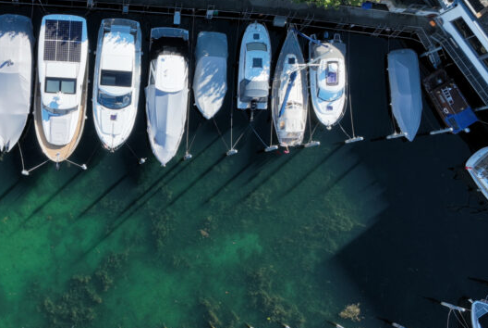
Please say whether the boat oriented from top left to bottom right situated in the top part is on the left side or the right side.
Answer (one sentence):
You can find the boat oriented from top left to bottom right situated in the top part on the right side of the picture.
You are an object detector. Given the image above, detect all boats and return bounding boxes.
[464,150,488,203]
[142,11,193,171]
[188,14,231,155]
[86,5,146,165]
[0,0,36,171]
[380,31,424,142]
[268,21,333,152]
[307,24,349,142]
[422,66,481,137]
[231,20,271,149]
[26,0,93,172]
